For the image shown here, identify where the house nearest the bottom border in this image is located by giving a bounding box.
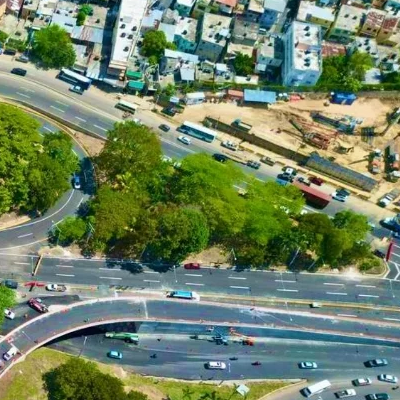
[301,152,379,198]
